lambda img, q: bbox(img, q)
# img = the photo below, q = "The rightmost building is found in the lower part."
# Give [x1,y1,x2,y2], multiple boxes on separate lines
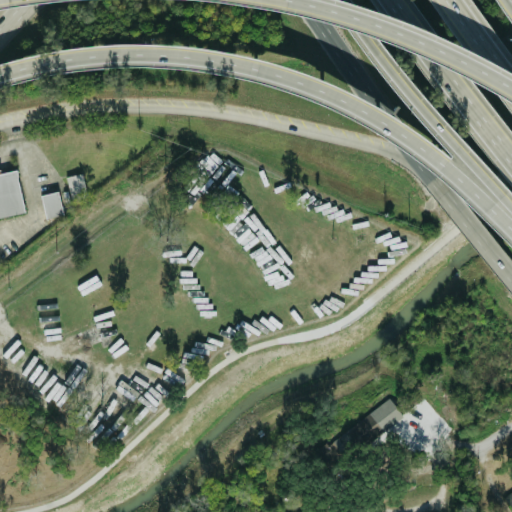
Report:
[370,399,402,432]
